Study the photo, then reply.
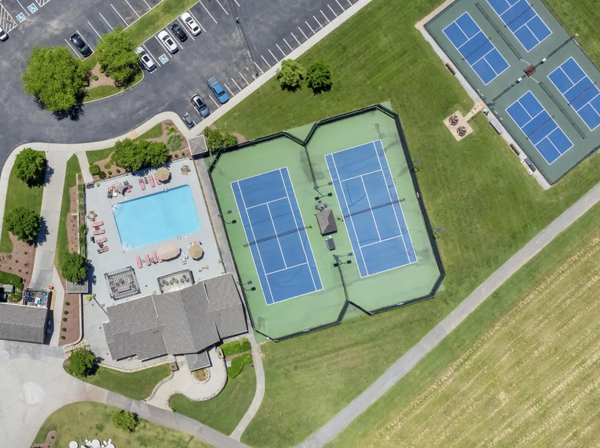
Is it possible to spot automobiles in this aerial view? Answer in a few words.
Yes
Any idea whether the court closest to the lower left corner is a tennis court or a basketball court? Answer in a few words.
tennis court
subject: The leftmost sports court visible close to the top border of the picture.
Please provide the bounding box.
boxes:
[443,12,510,85]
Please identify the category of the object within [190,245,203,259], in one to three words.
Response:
umbrella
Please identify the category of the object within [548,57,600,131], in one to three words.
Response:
sports court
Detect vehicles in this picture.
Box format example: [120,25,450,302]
[180,12,202,37]
[205,75,230,105]
[171,22,188,44]
[190,93,212,118]
[0,24,9,42]
[182,115,194,129]
[137,47,157,73]
[157,29,179,55]
[70,32,91,58]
